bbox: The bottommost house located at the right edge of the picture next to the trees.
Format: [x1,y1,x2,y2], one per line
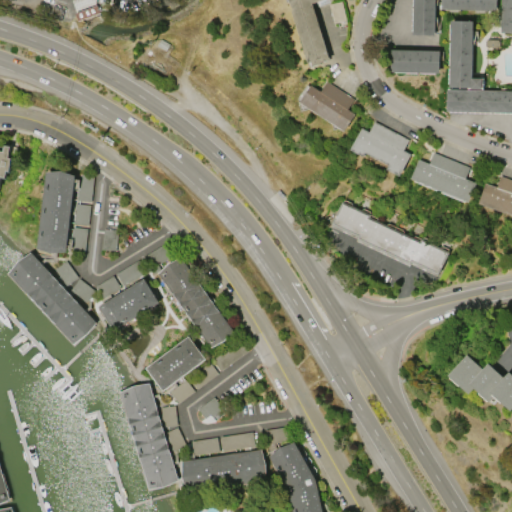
[449,356,512,411]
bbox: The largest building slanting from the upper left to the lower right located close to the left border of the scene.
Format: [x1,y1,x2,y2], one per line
[8,253,96,346]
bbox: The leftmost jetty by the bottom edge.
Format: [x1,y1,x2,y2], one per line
[6,390,46,512]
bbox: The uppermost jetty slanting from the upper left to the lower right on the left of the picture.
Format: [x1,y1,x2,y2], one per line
[0,298,72,389]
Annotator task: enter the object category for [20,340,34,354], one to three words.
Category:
boat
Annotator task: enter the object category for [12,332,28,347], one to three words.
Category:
boat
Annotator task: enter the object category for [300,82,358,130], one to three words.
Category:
house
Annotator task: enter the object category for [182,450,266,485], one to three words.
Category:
building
